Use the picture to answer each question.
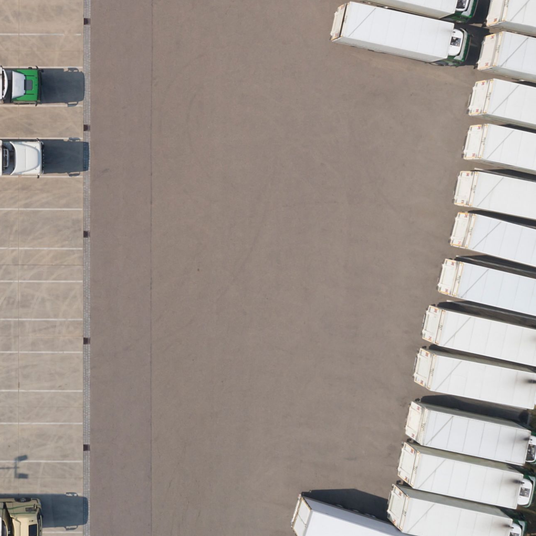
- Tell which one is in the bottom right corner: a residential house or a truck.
truck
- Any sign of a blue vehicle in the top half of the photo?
No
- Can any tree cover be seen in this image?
No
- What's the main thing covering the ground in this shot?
paved ground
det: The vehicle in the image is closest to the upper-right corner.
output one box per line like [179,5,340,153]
[481,0,536,37]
